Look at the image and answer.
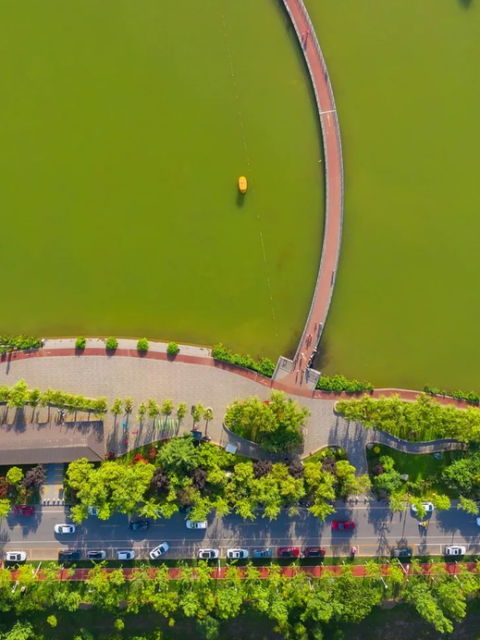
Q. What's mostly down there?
water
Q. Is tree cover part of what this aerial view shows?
Yes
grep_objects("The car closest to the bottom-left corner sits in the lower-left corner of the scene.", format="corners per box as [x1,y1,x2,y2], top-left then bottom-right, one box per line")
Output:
[5,550,27,562]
